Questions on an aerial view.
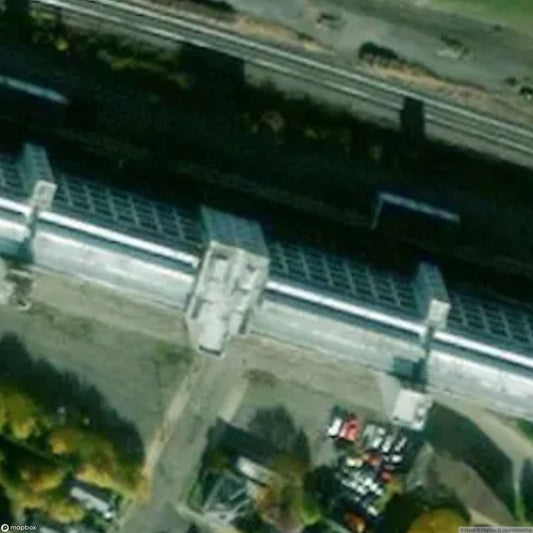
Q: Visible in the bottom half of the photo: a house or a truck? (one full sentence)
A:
Looking in the bottom half of the photo, you will find a house.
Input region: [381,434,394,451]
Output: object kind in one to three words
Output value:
vehicle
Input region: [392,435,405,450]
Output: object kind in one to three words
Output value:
vehicle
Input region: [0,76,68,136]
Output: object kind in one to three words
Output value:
shed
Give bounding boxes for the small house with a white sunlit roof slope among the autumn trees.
[67,471,117,513]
